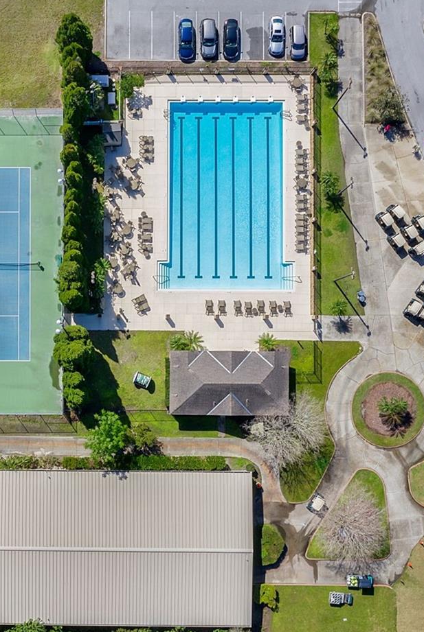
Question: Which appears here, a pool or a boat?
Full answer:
Visible in the photo is a pool.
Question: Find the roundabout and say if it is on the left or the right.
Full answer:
It is on the right.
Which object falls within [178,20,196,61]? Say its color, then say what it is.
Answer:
blue car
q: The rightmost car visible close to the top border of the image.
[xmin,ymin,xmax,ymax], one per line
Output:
[289,24,308,62]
